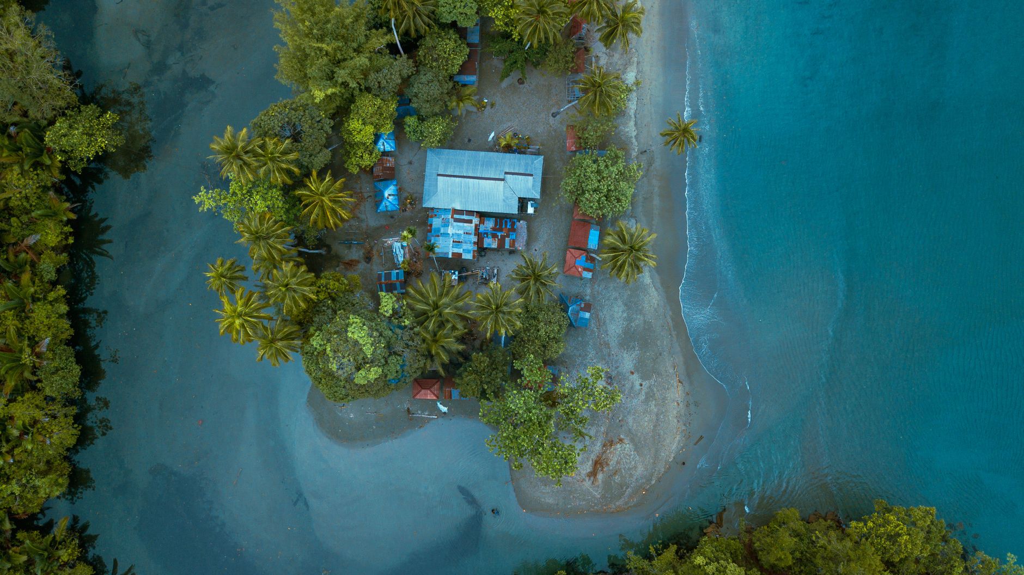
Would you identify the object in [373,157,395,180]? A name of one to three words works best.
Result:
shed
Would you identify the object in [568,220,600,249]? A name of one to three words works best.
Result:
shed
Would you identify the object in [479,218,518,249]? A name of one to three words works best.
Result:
house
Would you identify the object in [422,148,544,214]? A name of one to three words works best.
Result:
house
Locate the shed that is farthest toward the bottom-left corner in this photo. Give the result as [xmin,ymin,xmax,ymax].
[412,378,440,400]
